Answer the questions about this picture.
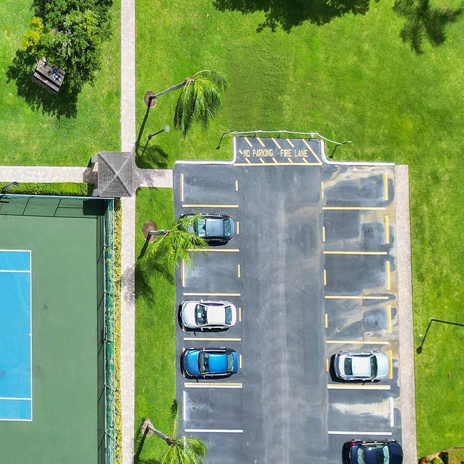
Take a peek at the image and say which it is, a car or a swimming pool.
car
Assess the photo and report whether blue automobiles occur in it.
Yes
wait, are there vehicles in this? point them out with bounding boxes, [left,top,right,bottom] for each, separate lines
[182,299,242,336]
[335,350,394,387]
[186,212,241,246]
[346,441,407,464]
[184,347,244,384]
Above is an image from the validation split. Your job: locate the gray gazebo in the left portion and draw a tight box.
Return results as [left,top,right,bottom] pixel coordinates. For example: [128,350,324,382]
[90,151,135,197]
